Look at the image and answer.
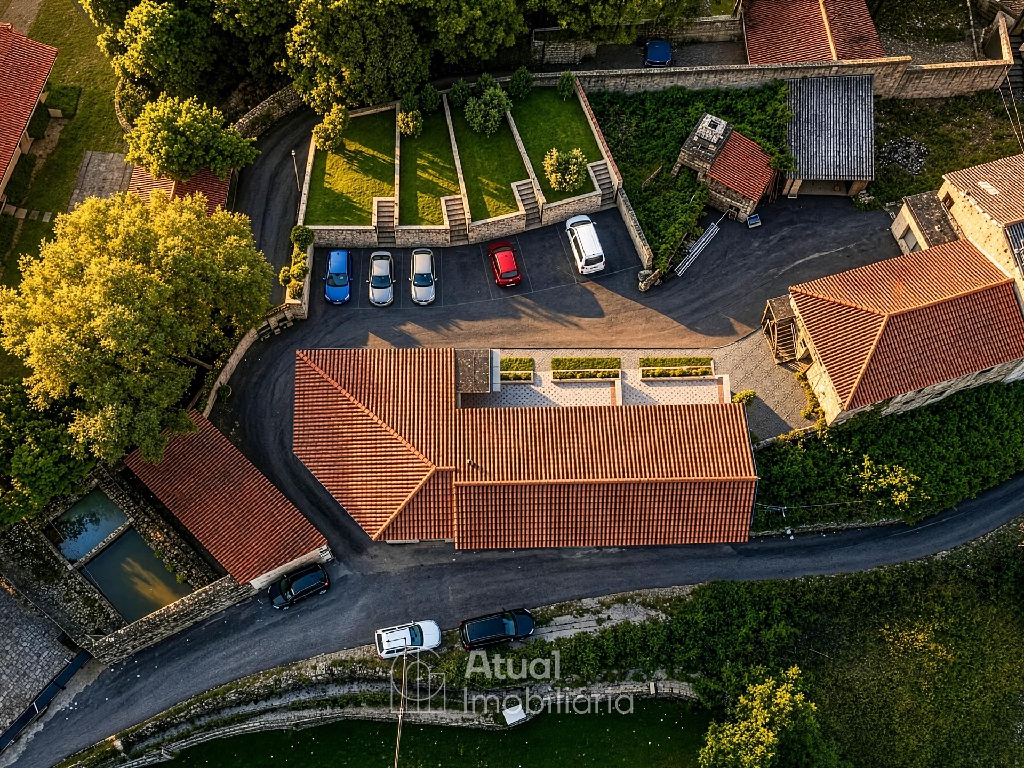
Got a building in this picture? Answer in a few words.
Yes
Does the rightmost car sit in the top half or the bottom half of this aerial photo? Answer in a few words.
top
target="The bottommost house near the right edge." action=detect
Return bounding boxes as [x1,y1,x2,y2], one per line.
[782,239,1024,425]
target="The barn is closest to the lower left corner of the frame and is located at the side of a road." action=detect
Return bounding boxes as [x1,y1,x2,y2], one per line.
[123,409,337,595]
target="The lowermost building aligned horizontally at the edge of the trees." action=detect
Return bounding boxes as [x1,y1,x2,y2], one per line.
[290,347,760,550]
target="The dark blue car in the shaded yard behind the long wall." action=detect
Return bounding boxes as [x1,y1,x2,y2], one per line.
[644,36,674,67]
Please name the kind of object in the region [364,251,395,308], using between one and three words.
car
